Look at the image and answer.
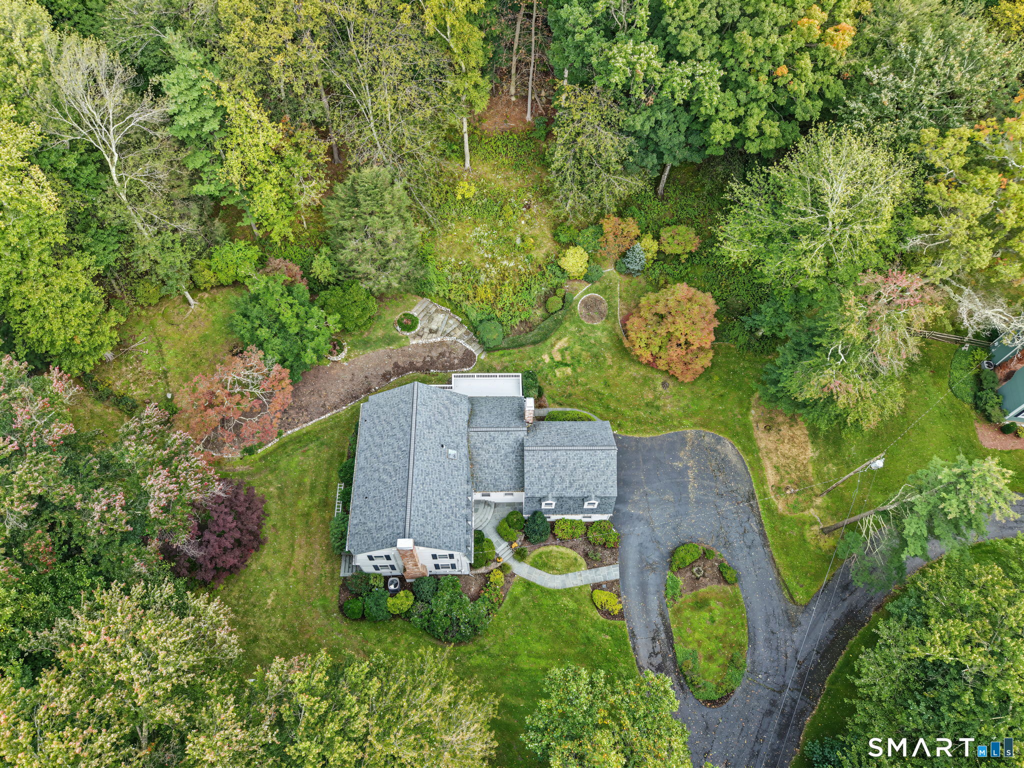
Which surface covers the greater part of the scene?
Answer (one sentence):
The bulk of the photo consists of trees.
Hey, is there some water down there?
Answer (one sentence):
No, there's no water in this view.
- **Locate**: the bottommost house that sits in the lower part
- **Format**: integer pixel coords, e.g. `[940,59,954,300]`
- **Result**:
[344,380,618,589]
